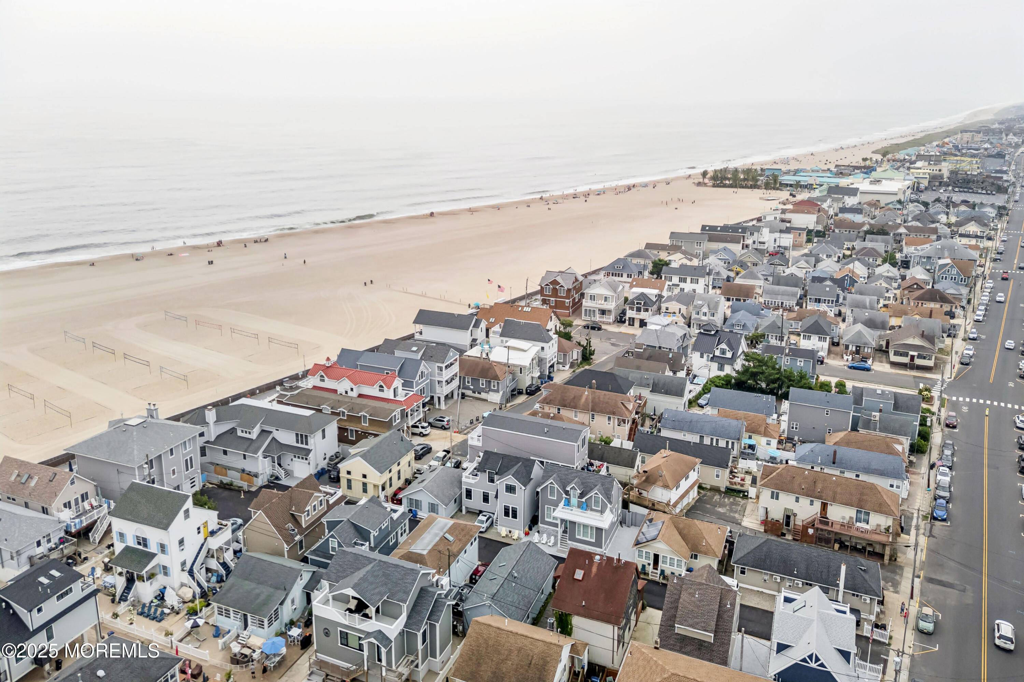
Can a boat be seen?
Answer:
No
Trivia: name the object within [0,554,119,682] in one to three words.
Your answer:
house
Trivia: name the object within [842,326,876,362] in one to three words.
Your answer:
house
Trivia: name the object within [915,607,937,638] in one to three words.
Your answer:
car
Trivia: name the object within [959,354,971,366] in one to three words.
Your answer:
vehicle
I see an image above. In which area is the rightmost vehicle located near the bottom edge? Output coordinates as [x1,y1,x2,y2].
[992,621,1018,656]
